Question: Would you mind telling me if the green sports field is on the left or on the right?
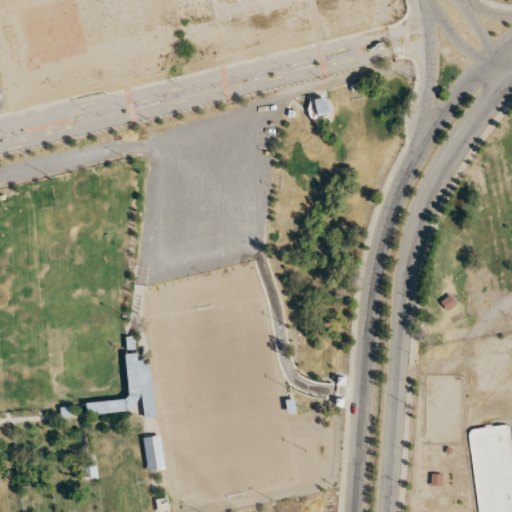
left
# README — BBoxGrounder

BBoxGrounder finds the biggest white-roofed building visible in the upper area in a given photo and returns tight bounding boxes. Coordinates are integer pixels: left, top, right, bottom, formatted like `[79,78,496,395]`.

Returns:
[310,97,334,122]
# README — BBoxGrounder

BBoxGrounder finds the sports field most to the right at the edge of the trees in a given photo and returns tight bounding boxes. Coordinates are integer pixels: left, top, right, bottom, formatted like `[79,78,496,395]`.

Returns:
[146,264,298,510]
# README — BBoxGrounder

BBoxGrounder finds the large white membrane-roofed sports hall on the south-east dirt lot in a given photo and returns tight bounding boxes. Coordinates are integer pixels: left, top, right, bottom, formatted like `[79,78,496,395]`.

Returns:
[468,424,512,512]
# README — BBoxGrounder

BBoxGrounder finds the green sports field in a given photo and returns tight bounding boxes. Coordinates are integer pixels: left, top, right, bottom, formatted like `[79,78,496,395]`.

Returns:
[0,160,131,414]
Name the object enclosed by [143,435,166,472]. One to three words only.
building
